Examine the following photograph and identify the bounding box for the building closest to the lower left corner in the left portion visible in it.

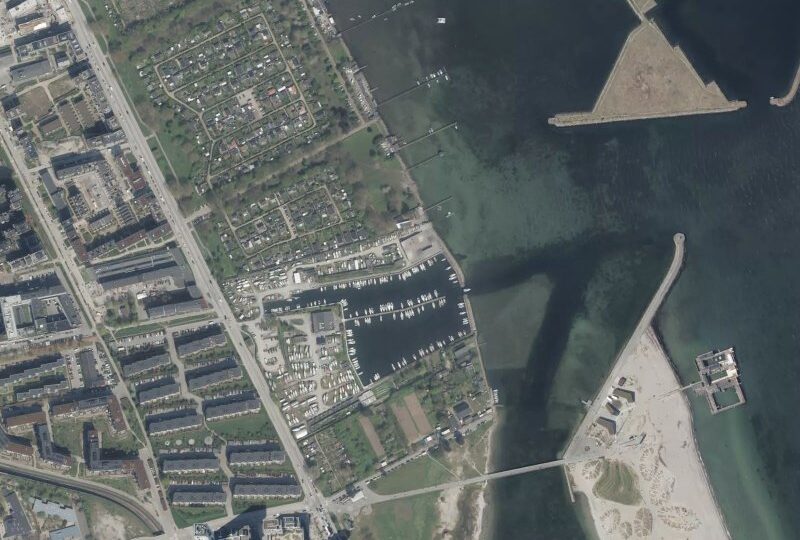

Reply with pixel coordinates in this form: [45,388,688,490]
[3,492,32,538]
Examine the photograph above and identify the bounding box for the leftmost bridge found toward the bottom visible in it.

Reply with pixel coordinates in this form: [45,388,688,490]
[483,459,568,481]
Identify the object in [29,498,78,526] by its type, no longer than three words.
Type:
building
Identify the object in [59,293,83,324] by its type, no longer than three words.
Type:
house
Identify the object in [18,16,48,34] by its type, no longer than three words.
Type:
building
